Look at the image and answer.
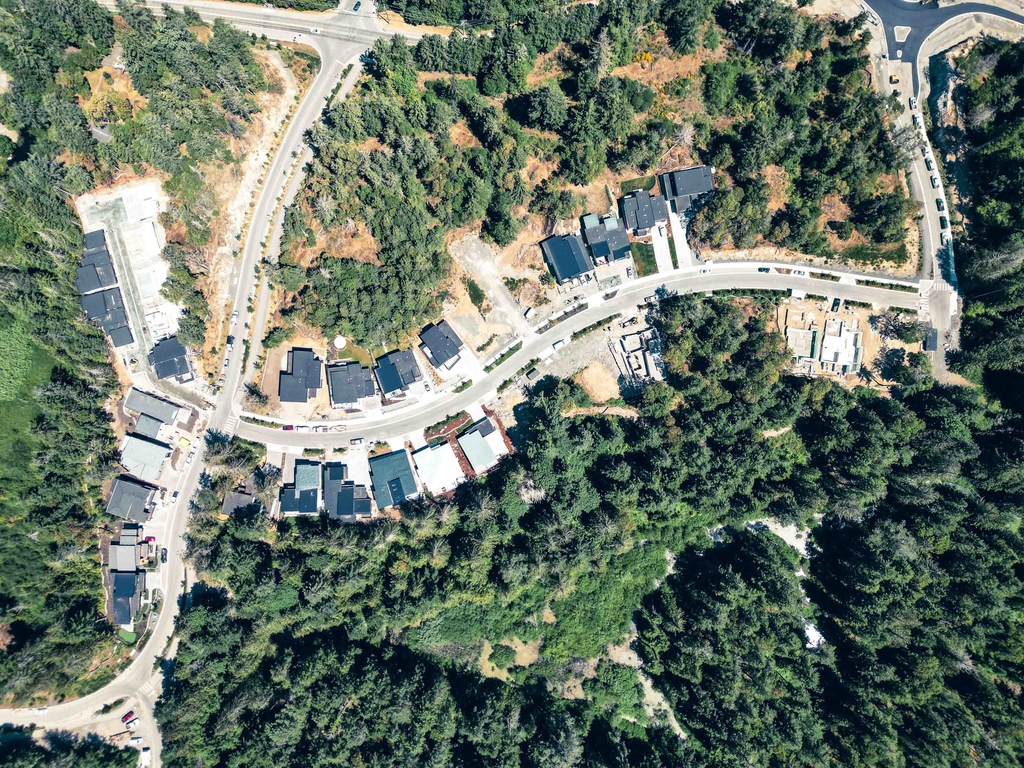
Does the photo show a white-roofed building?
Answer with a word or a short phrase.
Yes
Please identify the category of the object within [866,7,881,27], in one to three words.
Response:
vehicle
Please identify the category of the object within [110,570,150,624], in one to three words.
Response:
house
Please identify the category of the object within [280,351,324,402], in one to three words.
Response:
house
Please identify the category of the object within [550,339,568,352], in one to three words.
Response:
vehicle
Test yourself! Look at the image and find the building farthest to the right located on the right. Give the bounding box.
[920,328,937,351]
